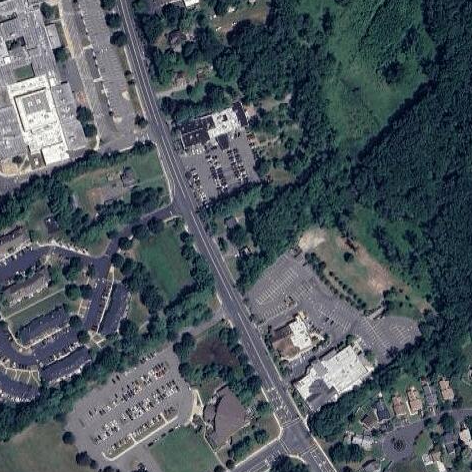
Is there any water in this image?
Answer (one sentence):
No, the scene doesn't show any water.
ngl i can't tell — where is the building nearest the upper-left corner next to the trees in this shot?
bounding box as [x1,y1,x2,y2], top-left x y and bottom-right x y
[0,0,88,164]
